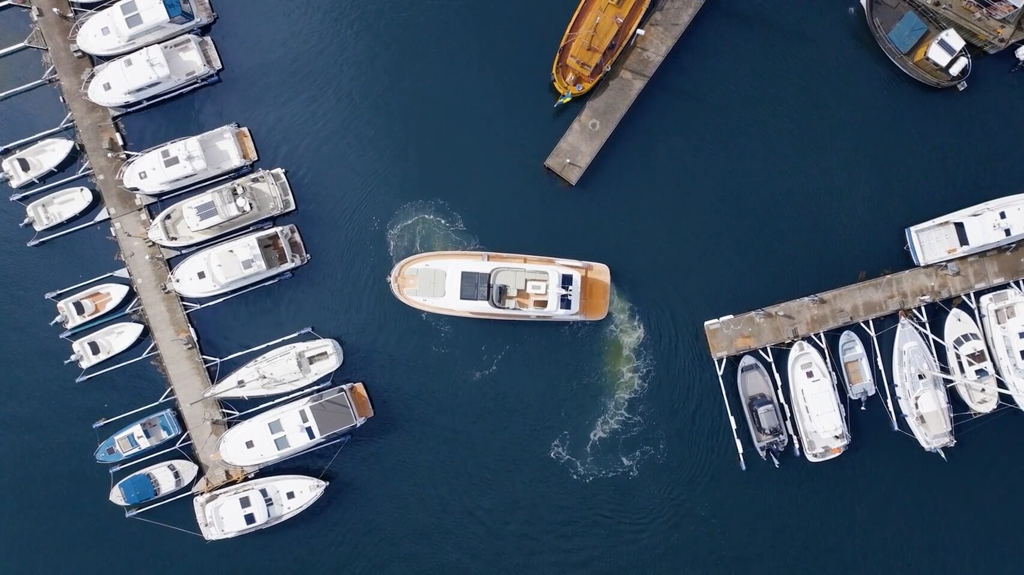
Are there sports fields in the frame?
No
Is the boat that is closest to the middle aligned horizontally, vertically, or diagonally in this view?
horizontally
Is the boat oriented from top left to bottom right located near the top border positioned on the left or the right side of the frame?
right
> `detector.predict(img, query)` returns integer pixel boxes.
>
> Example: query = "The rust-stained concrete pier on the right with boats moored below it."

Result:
[702,238,1024,361]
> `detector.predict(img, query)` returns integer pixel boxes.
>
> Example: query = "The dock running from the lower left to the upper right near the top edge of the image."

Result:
[542,0,704,186]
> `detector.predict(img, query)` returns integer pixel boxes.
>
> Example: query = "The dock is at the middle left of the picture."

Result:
[31,0,242,480]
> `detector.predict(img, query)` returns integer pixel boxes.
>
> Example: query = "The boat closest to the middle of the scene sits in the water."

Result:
[385,249,610,321]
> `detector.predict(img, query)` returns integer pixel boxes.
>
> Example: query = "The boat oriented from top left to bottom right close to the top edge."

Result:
[838,0,984,92]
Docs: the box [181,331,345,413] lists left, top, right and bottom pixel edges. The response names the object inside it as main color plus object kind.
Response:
white boat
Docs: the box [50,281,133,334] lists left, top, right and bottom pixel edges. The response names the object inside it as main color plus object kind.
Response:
white boat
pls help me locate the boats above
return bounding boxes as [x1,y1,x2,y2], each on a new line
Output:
[130,437,350,539]
[65,0,227,54]
[93,409,187,463]
[112,121,262,195]
[897,194,1024,271]
[1005,38,1024,70]
[14,185,91,243]
[161,224,312,297]
[774,336,851,464]
[192,377,376,467]
[64,324,145,378]
[385,249,610,321]
[838,0,984,92]
[971,285,1024,427]
[138,168,296,247]
[109,448,198,514]
[181,331,345,413]
[823,330,895,427]
[50,281,133,334]
[876,310,1024,464]
[0,128,84,194]
[734,355,789,469]
[76,36,224,108]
